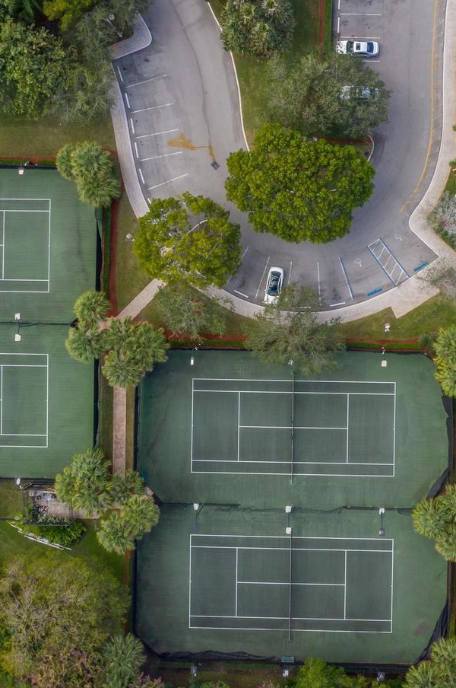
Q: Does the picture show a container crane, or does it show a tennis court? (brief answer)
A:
tennis court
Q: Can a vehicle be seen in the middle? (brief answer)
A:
Yes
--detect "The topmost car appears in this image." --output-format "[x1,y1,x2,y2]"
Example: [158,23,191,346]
[337,38,379,58]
